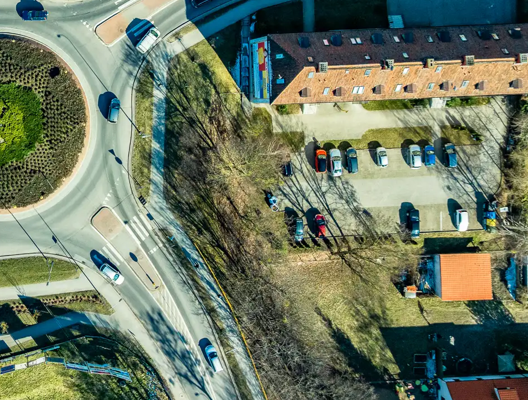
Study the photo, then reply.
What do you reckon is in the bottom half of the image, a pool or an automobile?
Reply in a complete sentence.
Looking in the bottom half of the image, you will find an automobile.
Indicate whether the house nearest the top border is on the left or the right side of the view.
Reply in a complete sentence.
The house nearest the top border sits on the right side.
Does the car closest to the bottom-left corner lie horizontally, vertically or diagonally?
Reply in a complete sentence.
In this picture, the car closest to the bottom-left corner is oriented diagonally.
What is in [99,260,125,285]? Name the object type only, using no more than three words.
car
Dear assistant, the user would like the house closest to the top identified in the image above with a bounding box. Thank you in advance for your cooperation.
[251,13,528,113]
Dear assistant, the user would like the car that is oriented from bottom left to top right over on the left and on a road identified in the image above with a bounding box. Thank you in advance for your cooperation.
[134,27,162,55]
